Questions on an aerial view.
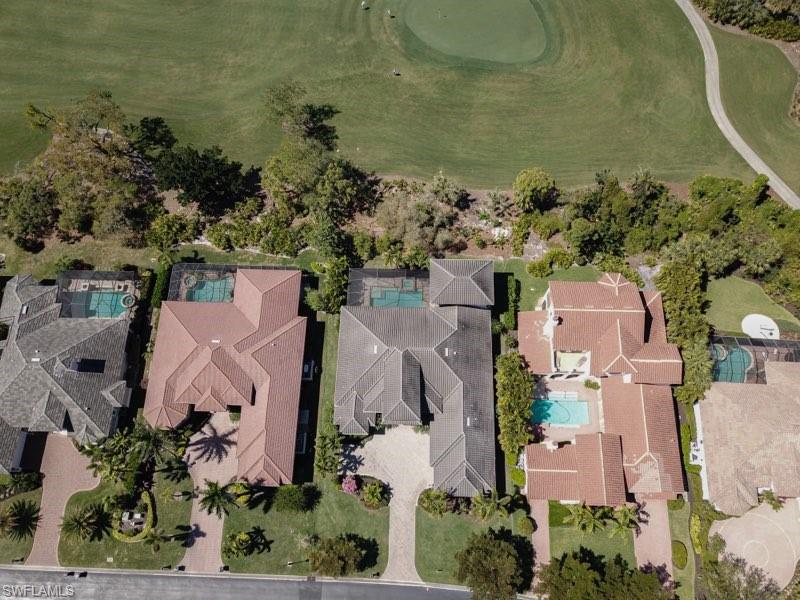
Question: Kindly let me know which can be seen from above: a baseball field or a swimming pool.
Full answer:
The one in the frame is a swimming pool.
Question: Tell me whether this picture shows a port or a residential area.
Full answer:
It's a residential area.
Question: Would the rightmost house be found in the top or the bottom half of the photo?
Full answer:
The rightmost house sits in the bottom half of the picture.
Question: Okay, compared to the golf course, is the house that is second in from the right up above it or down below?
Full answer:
The house that is second in from the right is below the golf course.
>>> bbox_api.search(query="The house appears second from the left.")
[138,269,305,488]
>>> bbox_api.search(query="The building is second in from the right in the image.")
[518,273,685,504]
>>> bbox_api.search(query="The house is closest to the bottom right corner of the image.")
[694,362,800,511]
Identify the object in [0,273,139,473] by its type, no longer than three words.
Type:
house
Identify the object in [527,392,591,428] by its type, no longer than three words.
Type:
swimming pool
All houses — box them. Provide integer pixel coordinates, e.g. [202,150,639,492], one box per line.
[333,259,495,498]
[138,269,305,488]
[518,273,685,504]
[0,273,139,473]
[694,362,800,511]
